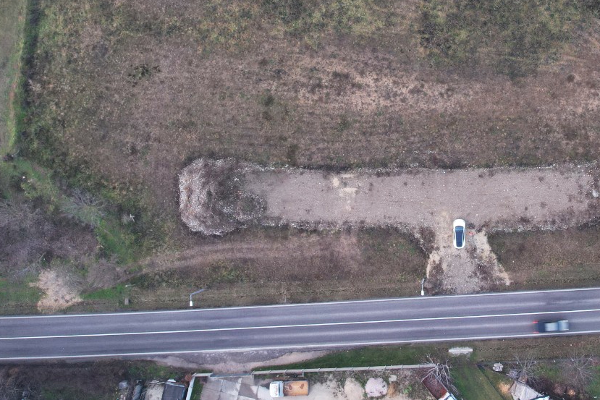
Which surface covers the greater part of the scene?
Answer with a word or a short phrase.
grass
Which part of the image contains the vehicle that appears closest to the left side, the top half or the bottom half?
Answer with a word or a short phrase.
bottom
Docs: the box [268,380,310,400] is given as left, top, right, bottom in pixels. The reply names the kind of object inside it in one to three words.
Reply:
vehicle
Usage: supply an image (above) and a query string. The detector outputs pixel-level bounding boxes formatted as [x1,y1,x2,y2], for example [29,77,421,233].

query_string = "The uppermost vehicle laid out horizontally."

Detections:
[536,320,569,336]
